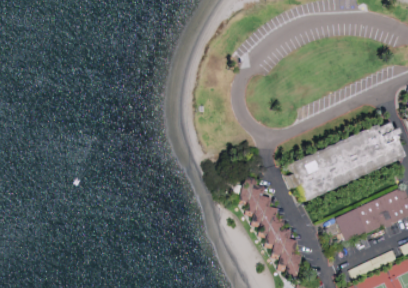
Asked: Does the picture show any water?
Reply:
Yes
